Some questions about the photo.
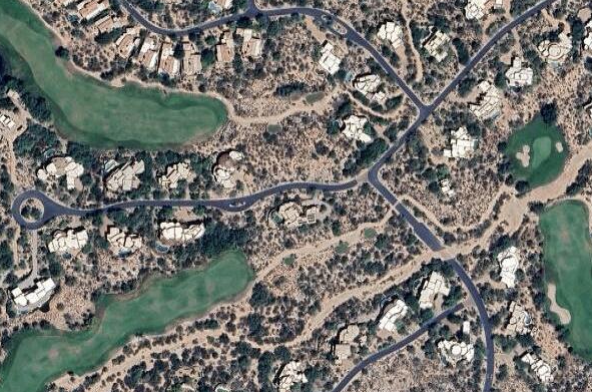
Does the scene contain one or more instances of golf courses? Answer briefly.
Yes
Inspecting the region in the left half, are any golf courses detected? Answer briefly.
Yes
